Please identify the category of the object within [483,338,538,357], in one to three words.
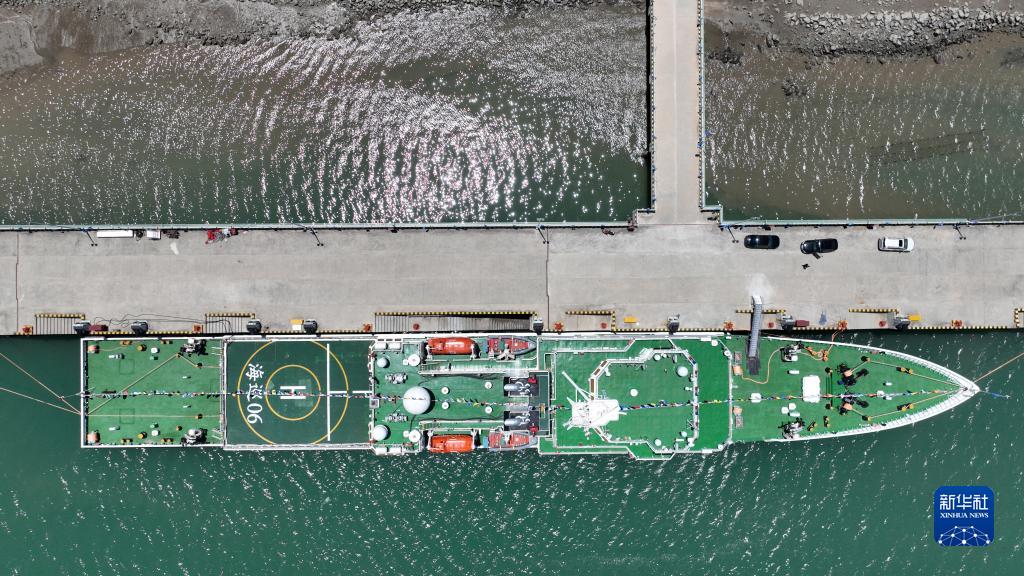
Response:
boat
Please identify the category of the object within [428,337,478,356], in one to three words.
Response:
boat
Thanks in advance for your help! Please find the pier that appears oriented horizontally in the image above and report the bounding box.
[0,204,1024,335]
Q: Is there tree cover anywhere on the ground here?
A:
No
